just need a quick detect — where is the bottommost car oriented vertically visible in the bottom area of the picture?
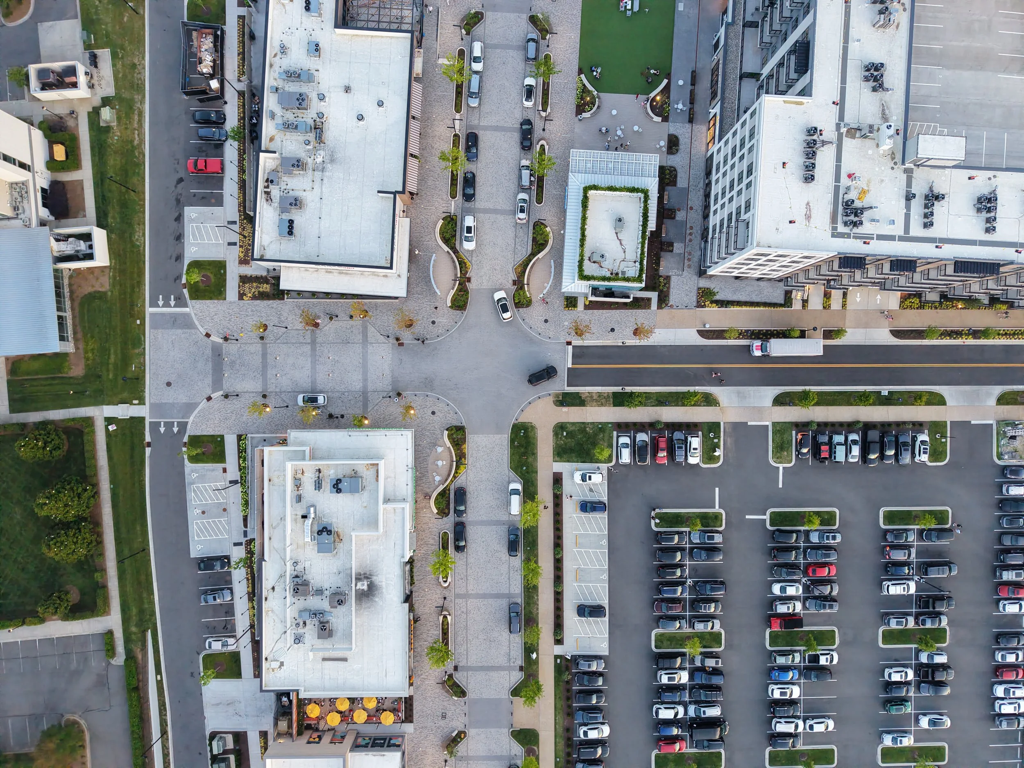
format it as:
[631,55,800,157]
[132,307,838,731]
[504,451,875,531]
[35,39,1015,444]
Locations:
[506,602,521,634]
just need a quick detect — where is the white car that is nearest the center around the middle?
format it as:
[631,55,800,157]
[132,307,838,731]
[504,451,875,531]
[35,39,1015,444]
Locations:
[493,290,513,323]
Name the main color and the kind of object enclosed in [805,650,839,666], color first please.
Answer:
white vehicle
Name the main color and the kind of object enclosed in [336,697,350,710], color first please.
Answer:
yellow umbrella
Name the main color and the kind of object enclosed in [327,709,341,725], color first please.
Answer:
yellow umbrella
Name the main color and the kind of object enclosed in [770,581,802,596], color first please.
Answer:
white car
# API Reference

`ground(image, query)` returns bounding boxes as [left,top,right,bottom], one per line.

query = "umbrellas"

[354,707,368,722]
[336,697,350,710]
[307,701,321,717]
[381,708,395,724]
[363,697,378,709]
[327,709,341,725]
